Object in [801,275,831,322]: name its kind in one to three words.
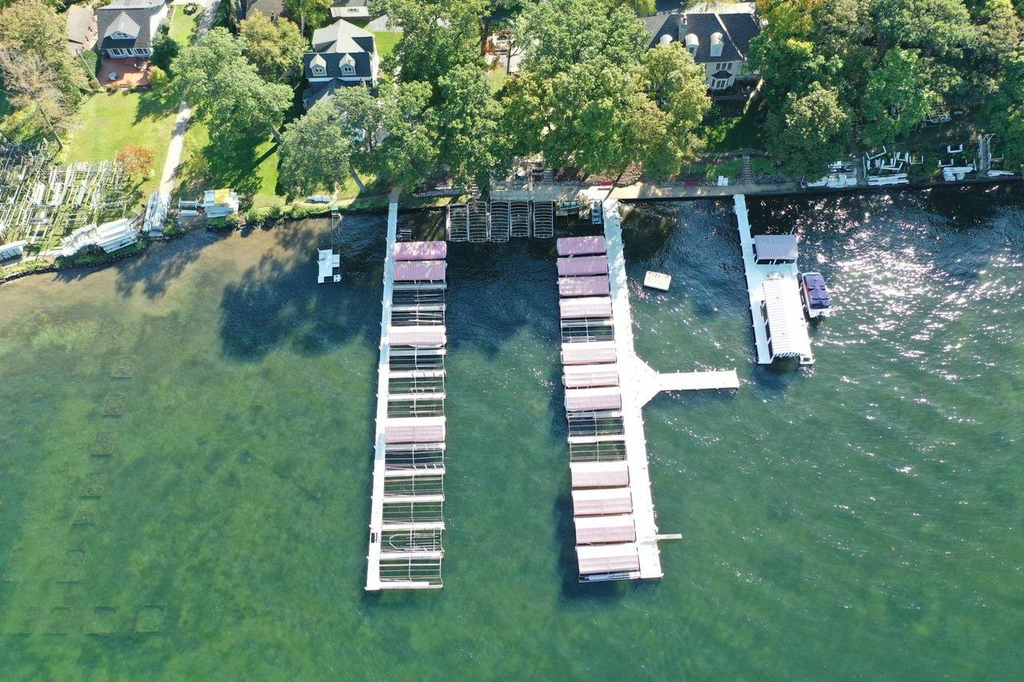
boat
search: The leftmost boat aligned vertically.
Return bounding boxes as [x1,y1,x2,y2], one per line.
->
[590,199,604,227]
